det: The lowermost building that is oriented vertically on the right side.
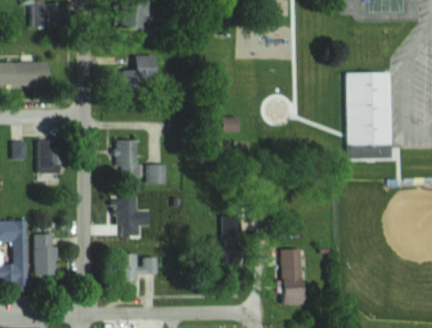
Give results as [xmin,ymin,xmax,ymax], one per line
[280,249,304,306]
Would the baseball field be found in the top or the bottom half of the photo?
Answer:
bottom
